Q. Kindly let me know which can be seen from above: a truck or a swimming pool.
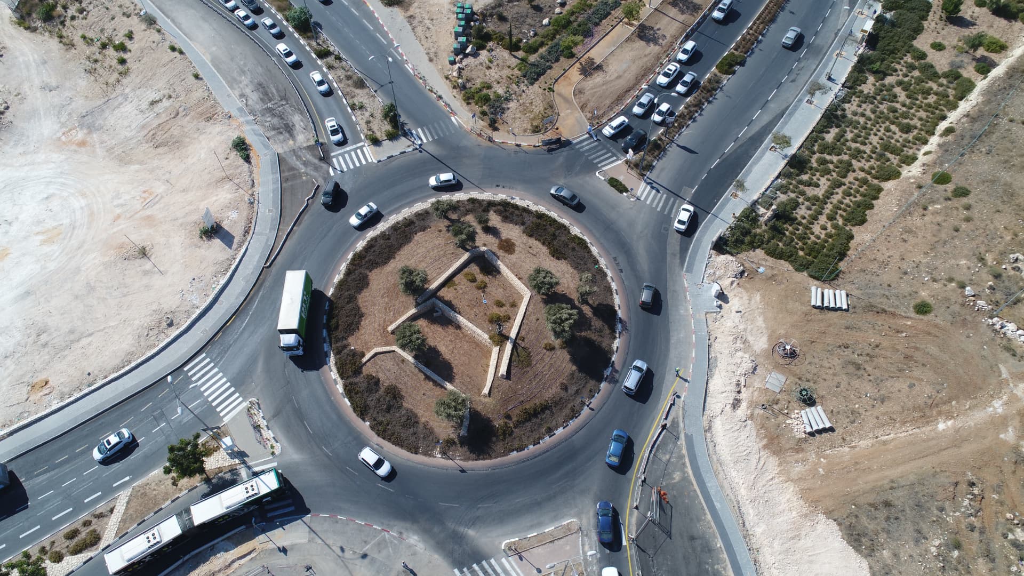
truck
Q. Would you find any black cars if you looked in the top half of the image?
Yes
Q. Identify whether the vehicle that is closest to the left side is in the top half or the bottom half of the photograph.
bottom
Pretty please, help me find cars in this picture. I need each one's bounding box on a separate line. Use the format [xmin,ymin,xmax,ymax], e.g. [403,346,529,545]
[319,178,342,210]
[605,429,628,469]
[637,282,657,313]
[630,90,656,118]
[674,69,699,97]
[675,39,699,64]
[93,427,135,463]
[619,126,649,154]
[348,201,381,229]
[308,70,332,98]
[215,0,239,12]
[711,0,735,21]
[428,172,459,189]
[595,501,615,545]
[601,565,618,576]
[780,26,803,51]
[650,100,675,126]
[600,114,631,138]
[621,359,647,398]
[232,7,259,32]
[260,15,286,40]
[274,41,301,68]
[238,0,263,15]
[357,445,393,481]
[672,204,693,235]
[325,117,345,146]
[655,62,682,89]
[548,185,582,208]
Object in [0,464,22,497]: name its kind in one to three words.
vehicle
